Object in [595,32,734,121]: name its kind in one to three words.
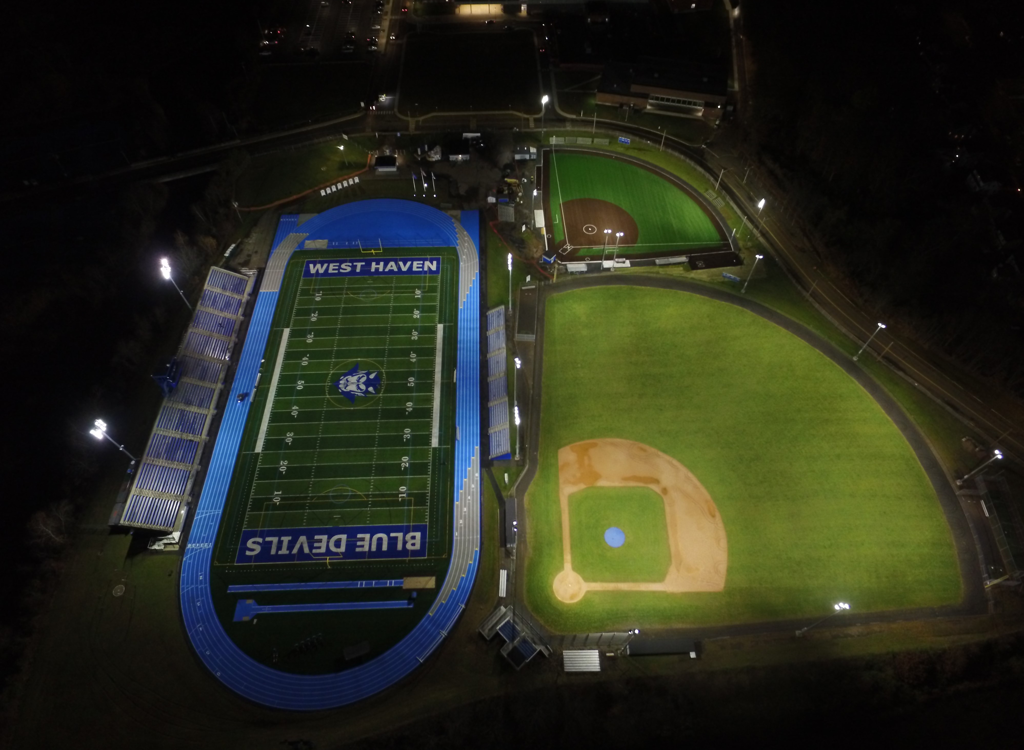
building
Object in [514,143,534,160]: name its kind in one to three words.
shed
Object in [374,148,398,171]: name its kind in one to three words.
building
